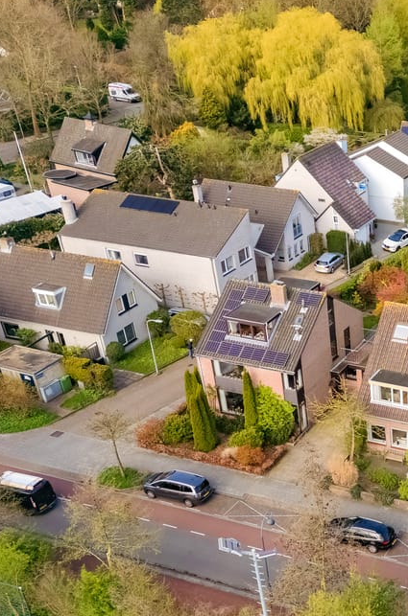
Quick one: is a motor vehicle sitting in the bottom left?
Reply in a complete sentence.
Yes, a motor vehicle is visible in the bottom left.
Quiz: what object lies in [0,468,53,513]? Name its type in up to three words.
van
